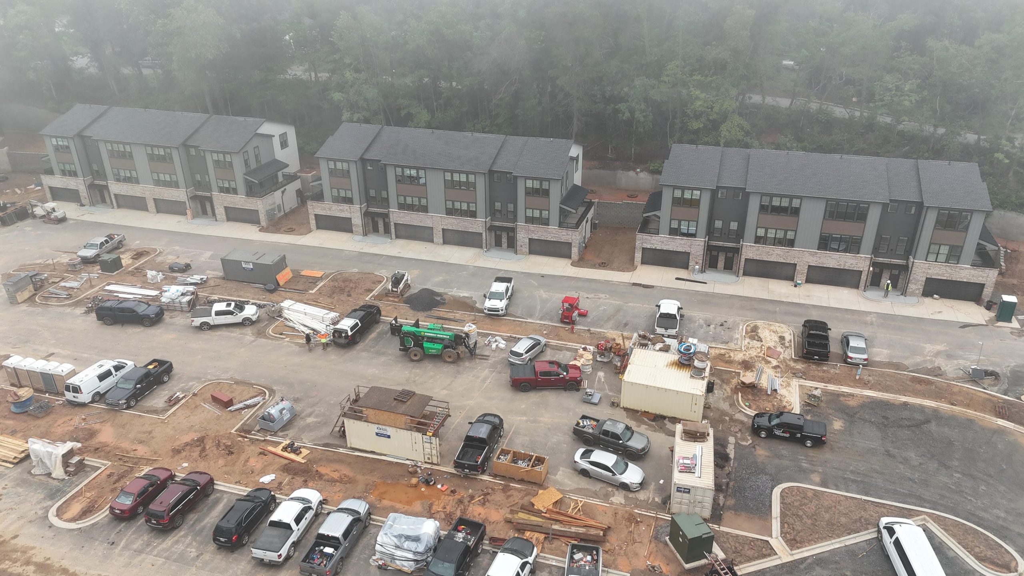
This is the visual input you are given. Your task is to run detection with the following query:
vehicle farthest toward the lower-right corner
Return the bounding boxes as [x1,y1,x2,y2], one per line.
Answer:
[878,519,958,576]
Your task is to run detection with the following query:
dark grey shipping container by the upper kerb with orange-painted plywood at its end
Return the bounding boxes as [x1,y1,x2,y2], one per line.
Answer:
[220,249,292,286]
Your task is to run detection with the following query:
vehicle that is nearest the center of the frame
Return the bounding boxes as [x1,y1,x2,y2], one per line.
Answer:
[480,277,515,317]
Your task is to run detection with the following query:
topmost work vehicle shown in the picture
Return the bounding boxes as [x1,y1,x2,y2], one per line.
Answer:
[34,196,63,225]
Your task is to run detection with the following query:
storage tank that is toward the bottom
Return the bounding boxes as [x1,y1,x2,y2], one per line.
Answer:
[258,398,295,431]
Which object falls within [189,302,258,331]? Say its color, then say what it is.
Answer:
white truck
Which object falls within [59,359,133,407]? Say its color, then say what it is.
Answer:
white van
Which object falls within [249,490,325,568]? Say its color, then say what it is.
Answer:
white truck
